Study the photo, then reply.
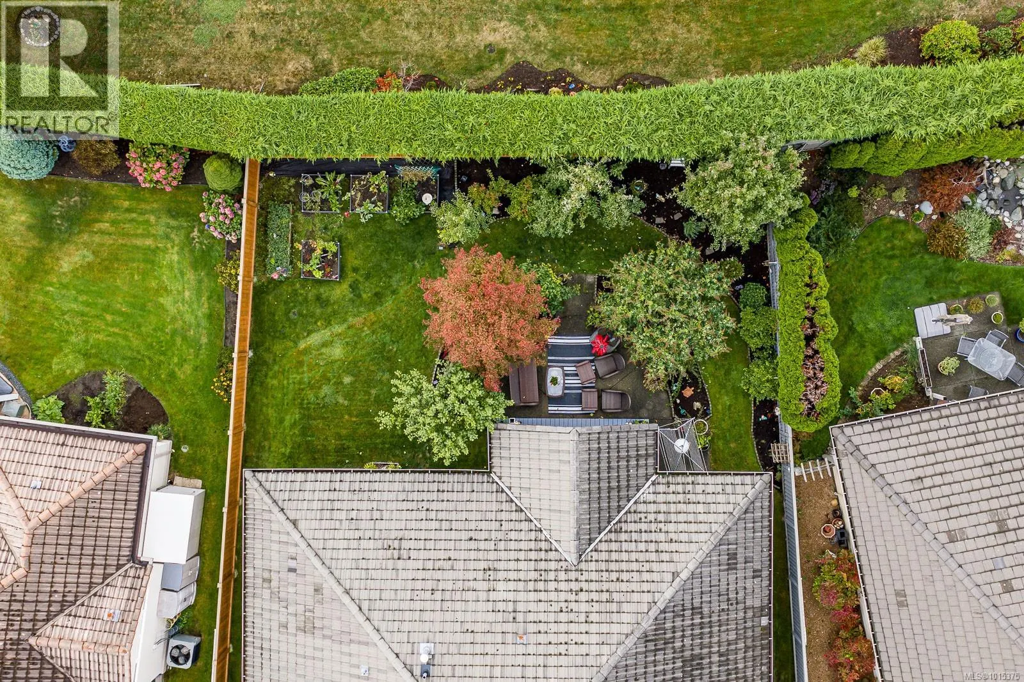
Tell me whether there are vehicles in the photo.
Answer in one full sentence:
No, no vehicle is visible in the view.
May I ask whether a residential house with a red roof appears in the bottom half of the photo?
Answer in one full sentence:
No, no residential house with a red roof is visible in the bottom half of the photo.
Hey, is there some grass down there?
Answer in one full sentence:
Yes, some grass is visible.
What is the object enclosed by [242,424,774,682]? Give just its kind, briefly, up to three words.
house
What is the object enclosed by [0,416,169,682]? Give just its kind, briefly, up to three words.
house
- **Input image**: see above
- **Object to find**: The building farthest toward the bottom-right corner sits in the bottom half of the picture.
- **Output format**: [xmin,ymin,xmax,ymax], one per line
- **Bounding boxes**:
[826,387,1024,682]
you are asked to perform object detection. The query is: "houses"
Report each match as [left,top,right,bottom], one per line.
[242,424,774,682]
[0,416,169,682]
[826,387,1024,682]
